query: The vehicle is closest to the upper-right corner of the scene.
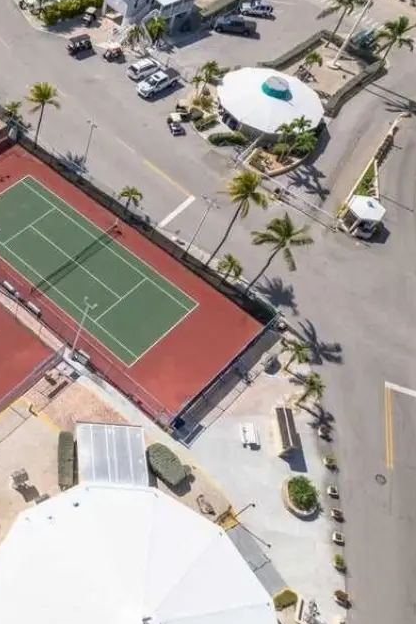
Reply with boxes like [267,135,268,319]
[239,0,276,17]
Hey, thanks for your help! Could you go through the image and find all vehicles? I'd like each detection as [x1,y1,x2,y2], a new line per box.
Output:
[214,16,260,37]
[104,39,124,59]
[127,57,163,80]
[68,31,92,52]
[239,0,276,17]
[138,69,183,98]
[175,94,197,116]
[82,5,98,26]
[169,110,186,133]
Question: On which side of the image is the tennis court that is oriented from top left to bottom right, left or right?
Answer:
left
